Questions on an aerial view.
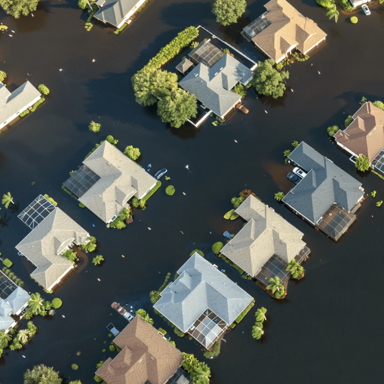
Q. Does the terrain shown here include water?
Yes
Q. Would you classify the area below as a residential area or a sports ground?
residential area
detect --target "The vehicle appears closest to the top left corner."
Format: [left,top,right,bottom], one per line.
[154,166,168,180]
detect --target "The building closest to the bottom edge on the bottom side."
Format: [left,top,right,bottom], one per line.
[95,315,197,384]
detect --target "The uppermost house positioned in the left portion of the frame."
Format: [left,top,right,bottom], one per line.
[90,0,150,29]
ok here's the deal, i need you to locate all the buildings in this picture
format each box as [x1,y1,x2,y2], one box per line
[283,141,370,243]
[242,0,328,63]
[15,195,89,290]
[220,194,313,294]
[62,140,157,224]
[178,38,255,120]
[333,101,384,176]
[0,269,32,335]
[154,253,253,351]
[95,315,197,384]
[90,0,150,29]
[0,80,42,132]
